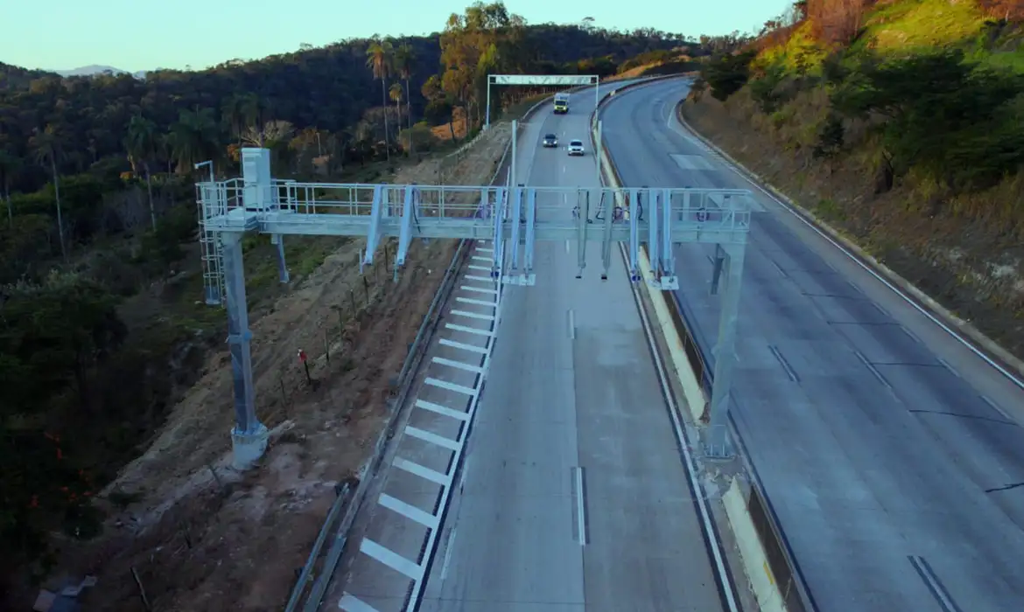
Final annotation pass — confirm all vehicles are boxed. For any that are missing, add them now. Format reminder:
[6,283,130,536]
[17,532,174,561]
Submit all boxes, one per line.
[568,141,586,156]
[542,135,558,148]
[554,91,571,112]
